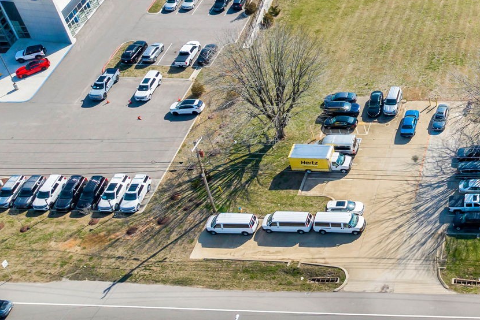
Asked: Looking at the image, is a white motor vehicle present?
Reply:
Yes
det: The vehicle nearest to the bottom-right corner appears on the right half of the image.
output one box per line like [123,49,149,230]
[452,210,480,231]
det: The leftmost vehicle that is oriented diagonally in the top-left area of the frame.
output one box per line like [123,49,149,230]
[89,68,123,99]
